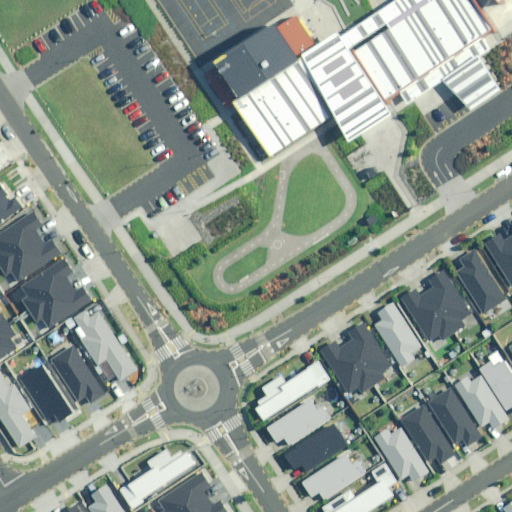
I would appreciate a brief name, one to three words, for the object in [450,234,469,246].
vehicle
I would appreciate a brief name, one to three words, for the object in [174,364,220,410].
roundabout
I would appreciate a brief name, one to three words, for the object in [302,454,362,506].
house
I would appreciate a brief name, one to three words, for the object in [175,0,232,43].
sports court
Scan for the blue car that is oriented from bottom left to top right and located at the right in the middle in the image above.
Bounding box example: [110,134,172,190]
[480,212,498,226]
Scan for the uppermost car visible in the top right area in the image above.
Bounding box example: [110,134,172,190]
[432,106,444,124]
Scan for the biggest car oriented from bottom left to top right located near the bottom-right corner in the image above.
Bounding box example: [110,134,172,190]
[427,485,444,498]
